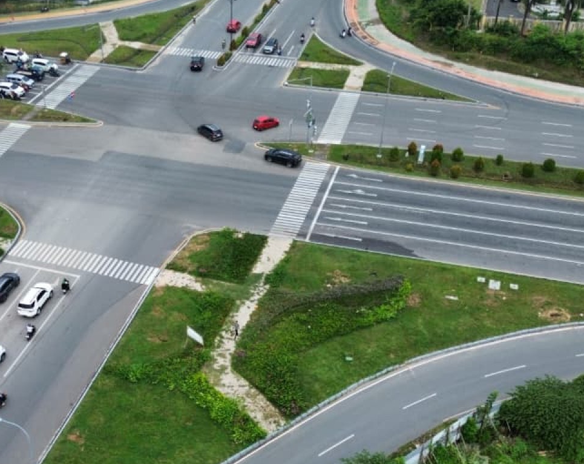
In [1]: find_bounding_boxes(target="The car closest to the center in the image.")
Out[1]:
[264,149,303,169]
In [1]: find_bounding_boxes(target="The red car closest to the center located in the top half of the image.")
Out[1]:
[251,117,280,133]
